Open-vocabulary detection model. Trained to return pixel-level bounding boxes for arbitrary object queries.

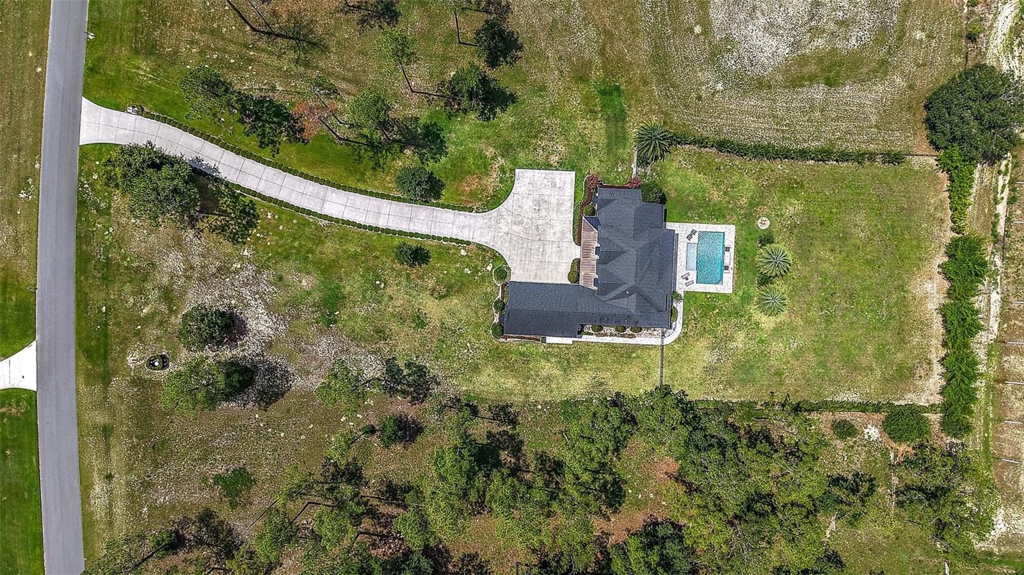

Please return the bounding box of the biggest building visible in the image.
[504,187,680,338]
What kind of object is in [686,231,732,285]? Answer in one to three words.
swimming pool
